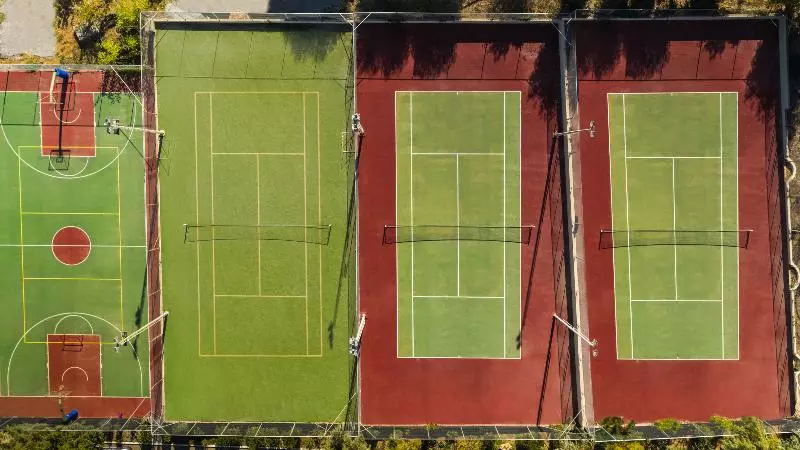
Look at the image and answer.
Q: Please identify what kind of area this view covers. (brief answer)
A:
sports ground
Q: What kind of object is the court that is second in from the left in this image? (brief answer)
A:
tennis court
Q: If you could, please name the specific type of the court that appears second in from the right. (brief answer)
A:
tennis court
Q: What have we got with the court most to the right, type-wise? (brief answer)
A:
tennis court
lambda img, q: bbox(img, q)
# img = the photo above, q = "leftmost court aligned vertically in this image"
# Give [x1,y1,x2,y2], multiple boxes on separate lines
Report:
[0,69,162,425]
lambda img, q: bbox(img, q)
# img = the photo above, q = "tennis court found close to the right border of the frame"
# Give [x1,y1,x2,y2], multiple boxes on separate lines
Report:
[564,18,797,427]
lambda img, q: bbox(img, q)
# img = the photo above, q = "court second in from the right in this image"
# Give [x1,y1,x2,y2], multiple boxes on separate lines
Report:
[357,22,580,425]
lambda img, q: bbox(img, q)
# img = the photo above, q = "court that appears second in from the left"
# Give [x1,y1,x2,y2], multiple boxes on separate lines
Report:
[156,24,360,423]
